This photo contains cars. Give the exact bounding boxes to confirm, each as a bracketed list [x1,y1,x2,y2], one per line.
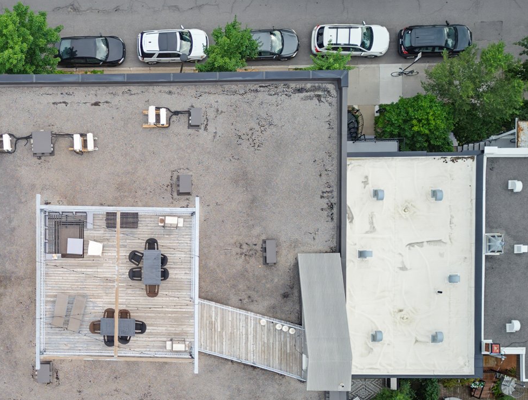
[55,31,126,67]
[397,21,473,59]
[310,20,389,58]
[137,25,208,63]
[230,25,300,61]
